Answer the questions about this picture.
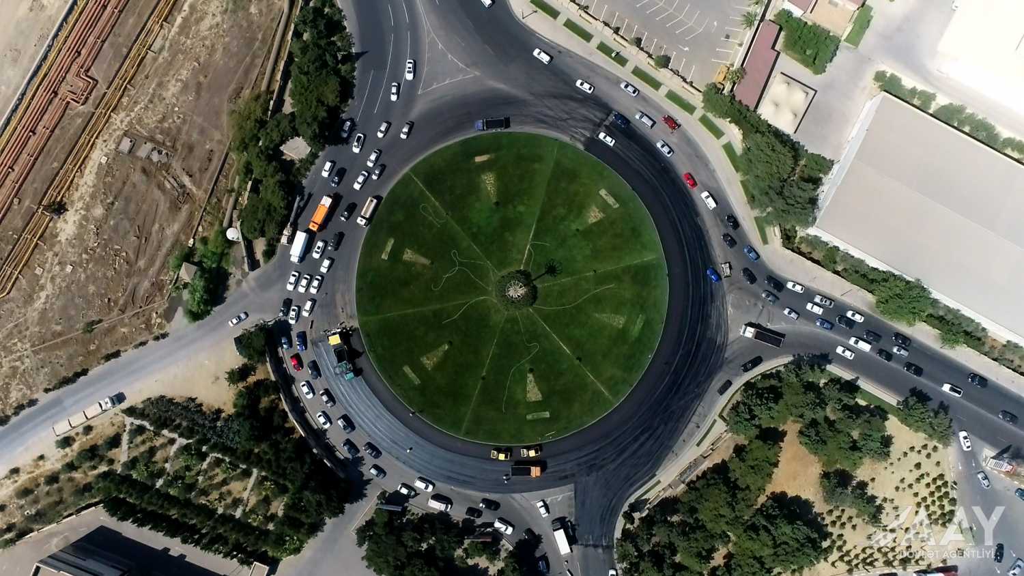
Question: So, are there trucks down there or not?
Yes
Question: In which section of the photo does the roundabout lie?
center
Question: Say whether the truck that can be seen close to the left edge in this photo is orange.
No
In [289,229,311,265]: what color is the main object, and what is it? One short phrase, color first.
white truck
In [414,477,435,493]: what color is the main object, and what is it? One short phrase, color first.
white car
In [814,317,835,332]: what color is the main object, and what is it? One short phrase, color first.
blue vehicle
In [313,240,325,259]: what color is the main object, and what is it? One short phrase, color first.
white vehicle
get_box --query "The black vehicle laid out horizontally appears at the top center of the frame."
[474,116,510,132]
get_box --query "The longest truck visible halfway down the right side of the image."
[737,323,785,348]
